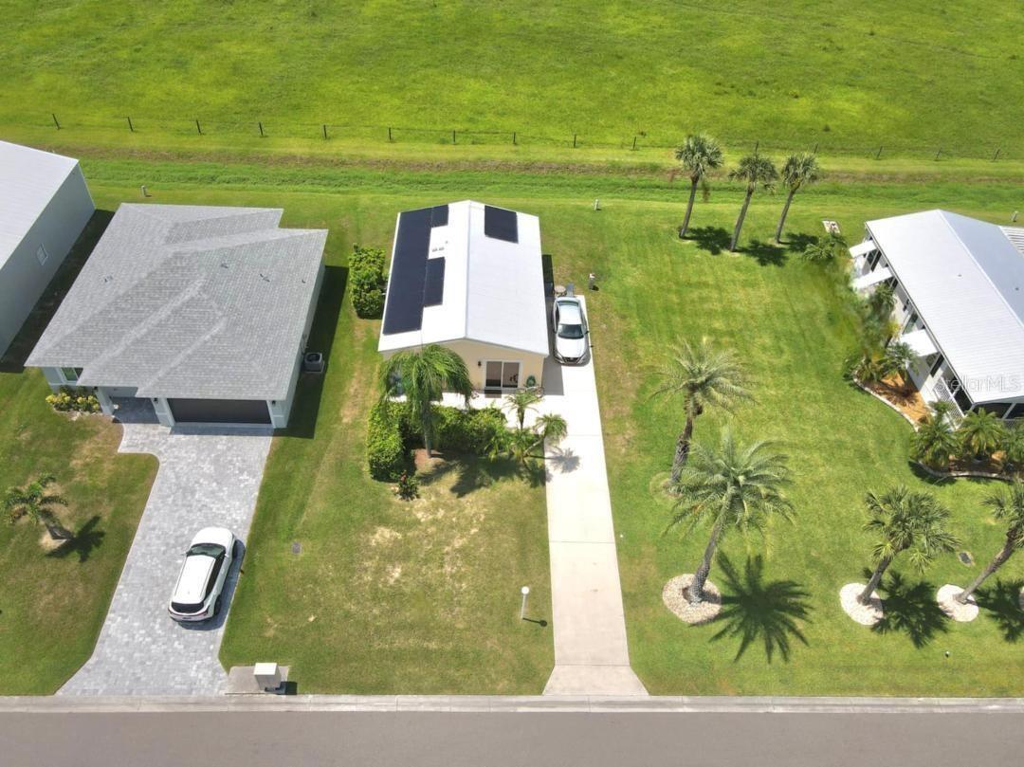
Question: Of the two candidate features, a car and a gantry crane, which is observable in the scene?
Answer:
car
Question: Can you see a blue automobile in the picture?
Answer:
No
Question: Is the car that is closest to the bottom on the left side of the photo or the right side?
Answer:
left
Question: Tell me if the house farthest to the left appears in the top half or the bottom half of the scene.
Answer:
top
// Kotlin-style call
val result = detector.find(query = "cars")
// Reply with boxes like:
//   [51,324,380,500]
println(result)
[550,298,590,359]
[167,531,238,628]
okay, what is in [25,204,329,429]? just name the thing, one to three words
house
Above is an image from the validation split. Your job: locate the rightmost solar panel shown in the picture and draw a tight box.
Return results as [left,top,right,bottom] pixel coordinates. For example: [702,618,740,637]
[484,204,519,243]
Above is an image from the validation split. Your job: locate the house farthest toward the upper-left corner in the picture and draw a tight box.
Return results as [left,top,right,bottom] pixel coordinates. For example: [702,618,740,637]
[0,142,94,358]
